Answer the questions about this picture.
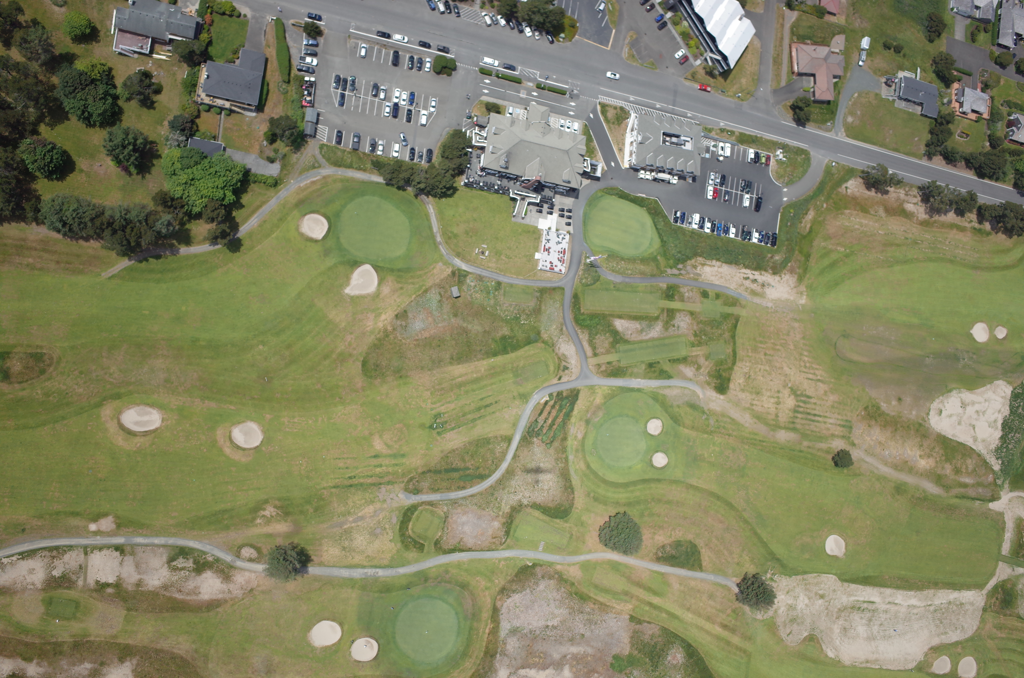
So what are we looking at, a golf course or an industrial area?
golf course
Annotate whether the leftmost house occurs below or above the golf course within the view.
above it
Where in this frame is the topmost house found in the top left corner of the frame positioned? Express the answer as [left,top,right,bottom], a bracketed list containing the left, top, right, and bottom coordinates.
[114,0,202,57]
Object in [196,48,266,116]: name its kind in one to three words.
house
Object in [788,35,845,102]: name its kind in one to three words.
house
